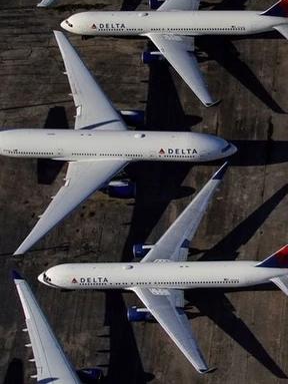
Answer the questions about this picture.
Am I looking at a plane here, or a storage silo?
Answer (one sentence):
The image shows a plane.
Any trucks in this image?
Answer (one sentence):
No, the frame has no truck in it.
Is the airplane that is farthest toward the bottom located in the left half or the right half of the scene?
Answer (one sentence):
You can find the airplane that is farthest toward the bottom on the left side of the picture.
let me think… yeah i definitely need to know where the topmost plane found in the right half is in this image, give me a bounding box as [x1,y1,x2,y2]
[59,0,288,105]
